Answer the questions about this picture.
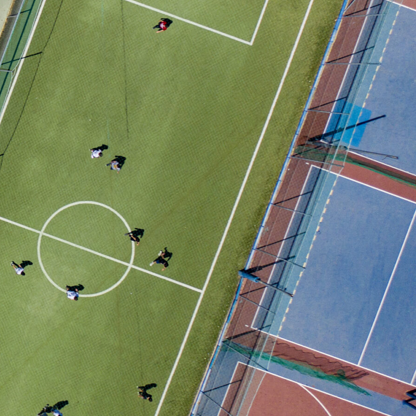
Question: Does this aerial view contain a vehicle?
No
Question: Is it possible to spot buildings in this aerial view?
No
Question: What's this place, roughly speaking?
sports ground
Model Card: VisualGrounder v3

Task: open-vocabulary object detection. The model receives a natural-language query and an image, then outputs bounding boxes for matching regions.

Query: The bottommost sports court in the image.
[196,346,416,416]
